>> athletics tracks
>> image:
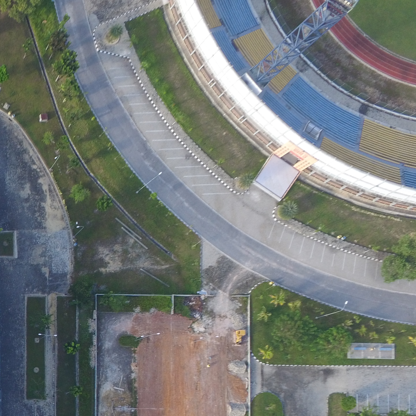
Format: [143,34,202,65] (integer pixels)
[307,0,416,88]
